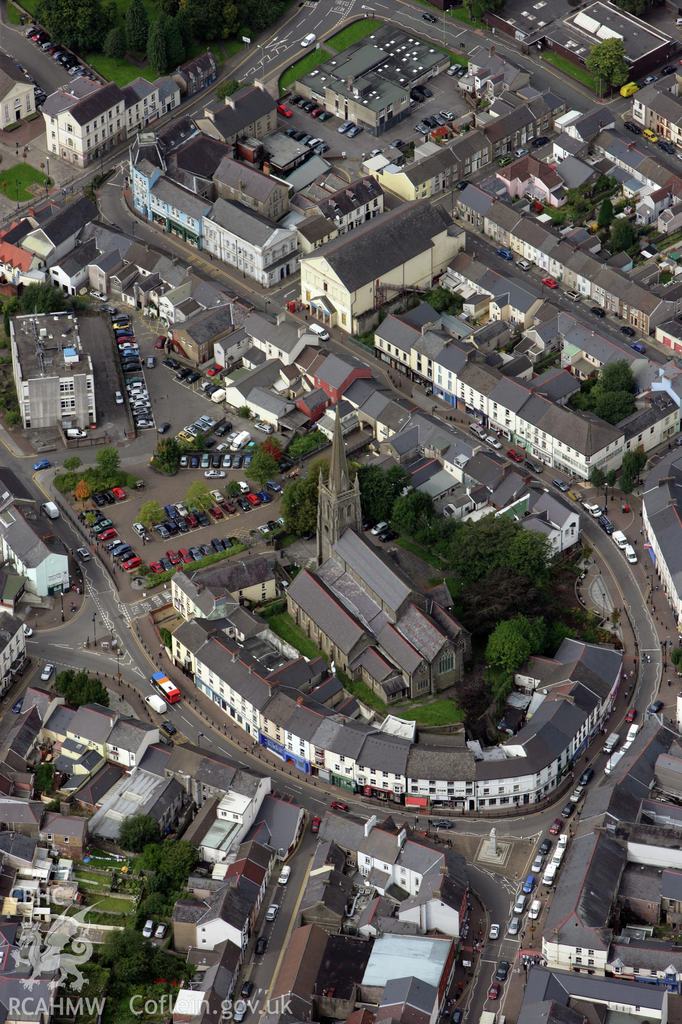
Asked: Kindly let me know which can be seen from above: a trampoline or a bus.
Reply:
bus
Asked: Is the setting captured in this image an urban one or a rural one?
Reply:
urban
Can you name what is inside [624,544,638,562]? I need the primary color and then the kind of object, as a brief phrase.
white vehicle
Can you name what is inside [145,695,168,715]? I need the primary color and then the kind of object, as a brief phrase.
white vehicle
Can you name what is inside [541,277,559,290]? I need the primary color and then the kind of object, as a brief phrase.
red vehicle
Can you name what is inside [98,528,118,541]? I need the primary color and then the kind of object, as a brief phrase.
red vehicle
